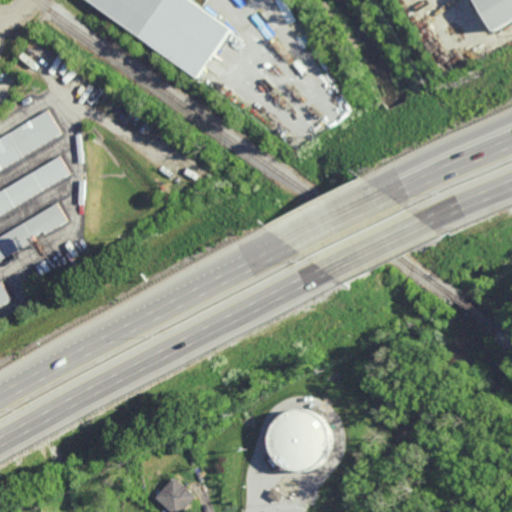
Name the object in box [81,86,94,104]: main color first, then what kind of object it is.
white vehicle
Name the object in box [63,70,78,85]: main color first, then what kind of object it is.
white vehicle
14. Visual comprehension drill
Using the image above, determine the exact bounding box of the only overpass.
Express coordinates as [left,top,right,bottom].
[258,170,444,292]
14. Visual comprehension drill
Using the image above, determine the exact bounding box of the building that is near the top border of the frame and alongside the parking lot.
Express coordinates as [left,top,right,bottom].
[86,0,234,78]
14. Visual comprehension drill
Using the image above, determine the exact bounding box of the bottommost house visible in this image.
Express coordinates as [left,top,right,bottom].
[156,480,194,512]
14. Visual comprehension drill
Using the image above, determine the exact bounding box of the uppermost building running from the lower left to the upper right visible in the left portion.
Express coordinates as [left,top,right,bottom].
[0,110,66,172]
